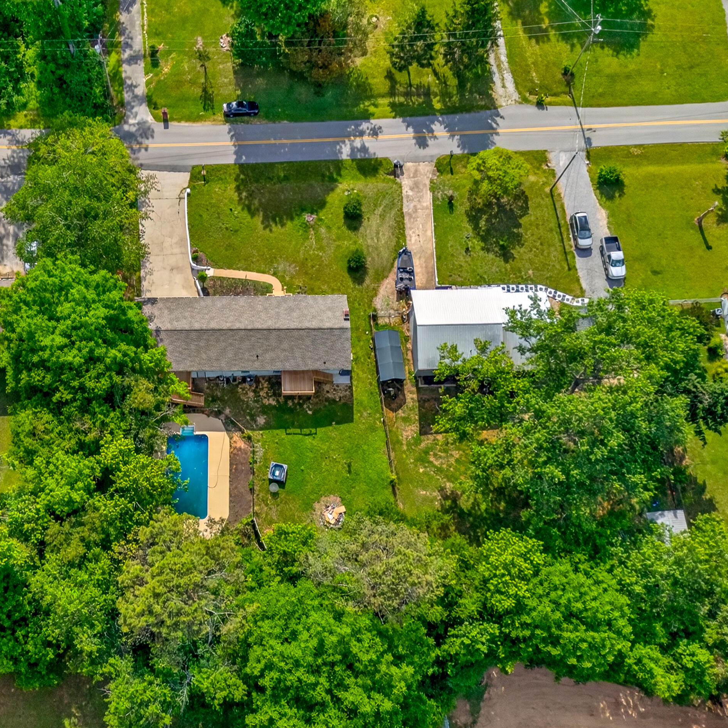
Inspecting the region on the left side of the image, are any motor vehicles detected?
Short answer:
Yes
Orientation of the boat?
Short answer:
vertically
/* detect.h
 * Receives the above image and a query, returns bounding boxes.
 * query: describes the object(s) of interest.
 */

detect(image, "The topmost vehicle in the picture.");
[222,99,260,117]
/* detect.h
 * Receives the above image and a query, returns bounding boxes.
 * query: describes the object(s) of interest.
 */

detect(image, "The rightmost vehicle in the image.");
[597,236,628,281]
